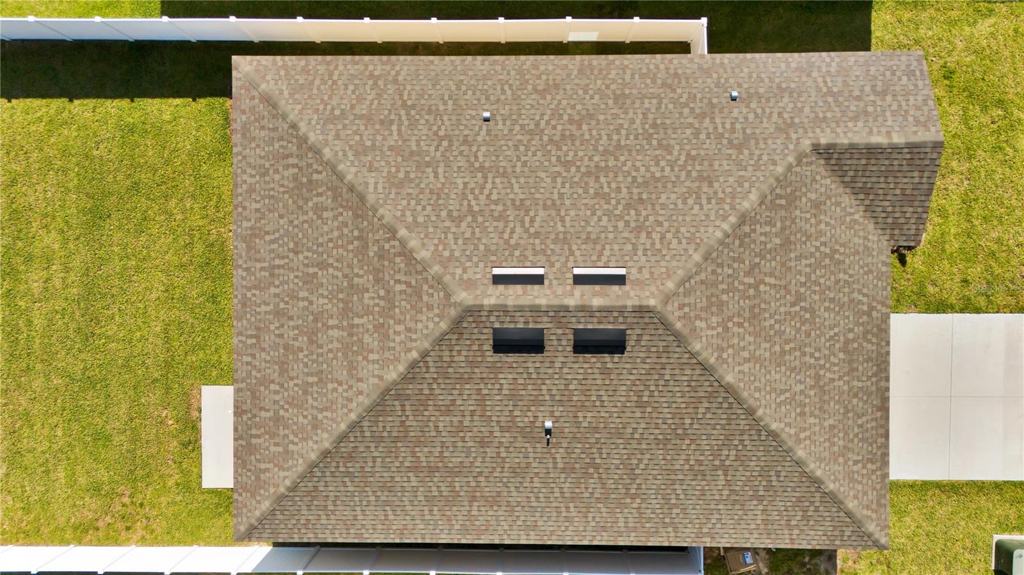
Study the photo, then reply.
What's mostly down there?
buildings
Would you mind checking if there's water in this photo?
No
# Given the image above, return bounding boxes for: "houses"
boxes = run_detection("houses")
[232,51,945,552]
